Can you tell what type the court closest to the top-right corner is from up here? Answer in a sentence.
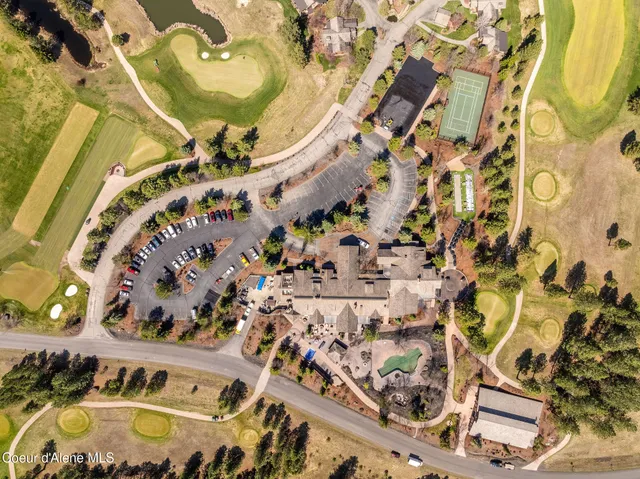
It turns out the court closest to the top-right corner is a tennis court.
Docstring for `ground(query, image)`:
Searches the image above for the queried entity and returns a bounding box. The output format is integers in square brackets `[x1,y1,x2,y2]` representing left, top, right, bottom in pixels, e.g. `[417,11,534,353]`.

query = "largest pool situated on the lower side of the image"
[376,346,423,378]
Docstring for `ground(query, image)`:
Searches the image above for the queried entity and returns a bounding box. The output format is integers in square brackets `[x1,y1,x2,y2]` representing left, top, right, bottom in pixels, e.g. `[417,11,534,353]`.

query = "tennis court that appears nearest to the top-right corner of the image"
[438,69,491,144]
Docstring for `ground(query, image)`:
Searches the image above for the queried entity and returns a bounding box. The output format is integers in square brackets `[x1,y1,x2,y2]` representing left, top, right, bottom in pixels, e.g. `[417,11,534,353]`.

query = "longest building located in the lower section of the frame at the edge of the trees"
[274,246,442,334]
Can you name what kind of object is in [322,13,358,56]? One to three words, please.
house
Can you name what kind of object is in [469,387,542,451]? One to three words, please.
barn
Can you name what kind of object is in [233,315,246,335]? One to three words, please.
vehicle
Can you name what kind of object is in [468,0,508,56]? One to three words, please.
house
